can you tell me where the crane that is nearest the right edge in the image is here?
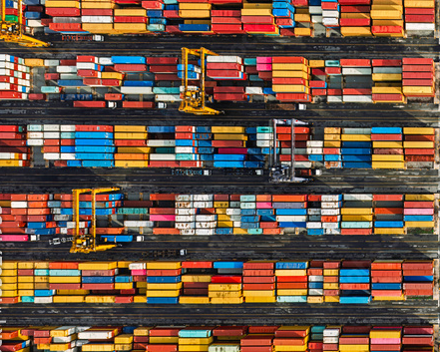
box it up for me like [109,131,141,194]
[269,118,310,185]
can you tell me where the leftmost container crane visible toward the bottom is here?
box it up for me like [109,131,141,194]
[71,187,124,254]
